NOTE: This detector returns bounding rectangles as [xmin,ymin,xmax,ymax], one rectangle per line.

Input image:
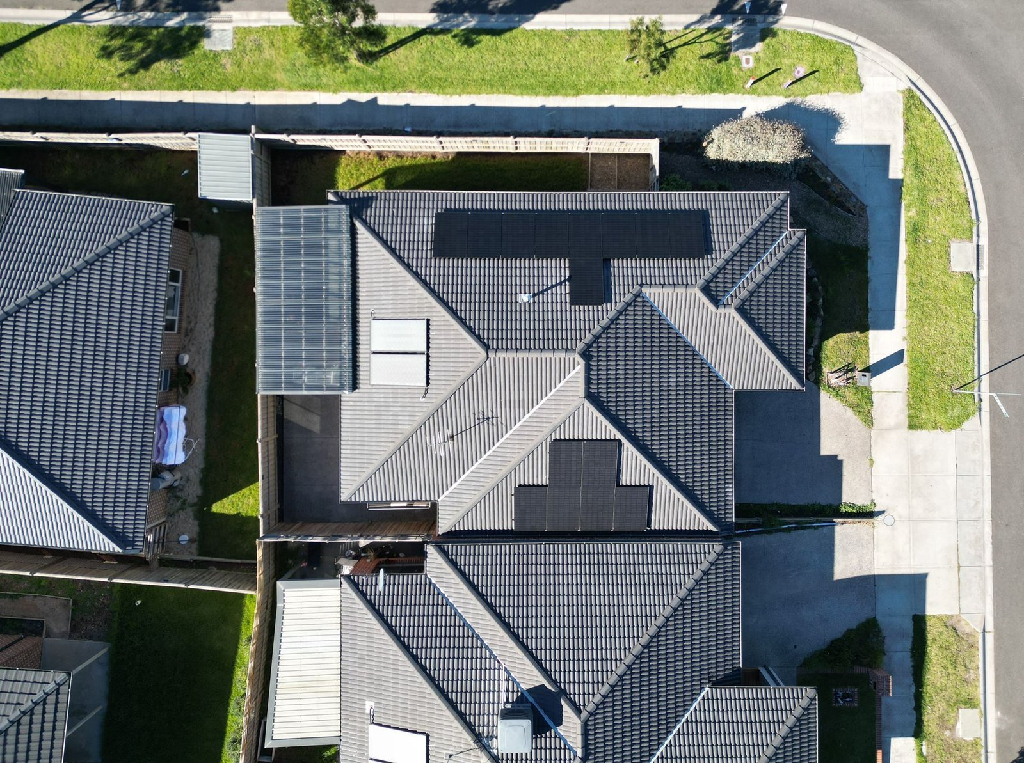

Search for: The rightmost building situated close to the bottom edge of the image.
[337,538,820,763]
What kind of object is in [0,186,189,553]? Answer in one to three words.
house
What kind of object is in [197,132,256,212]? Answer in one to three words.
shed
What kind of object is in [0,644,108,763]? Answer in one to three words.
house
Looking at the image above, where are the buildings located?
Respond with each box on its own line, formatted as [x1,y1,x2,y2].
[337,538,820,763]
[0,186,189,553]
[326,188,808,535]
[0,644,108,763]
[197,132,256,212]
